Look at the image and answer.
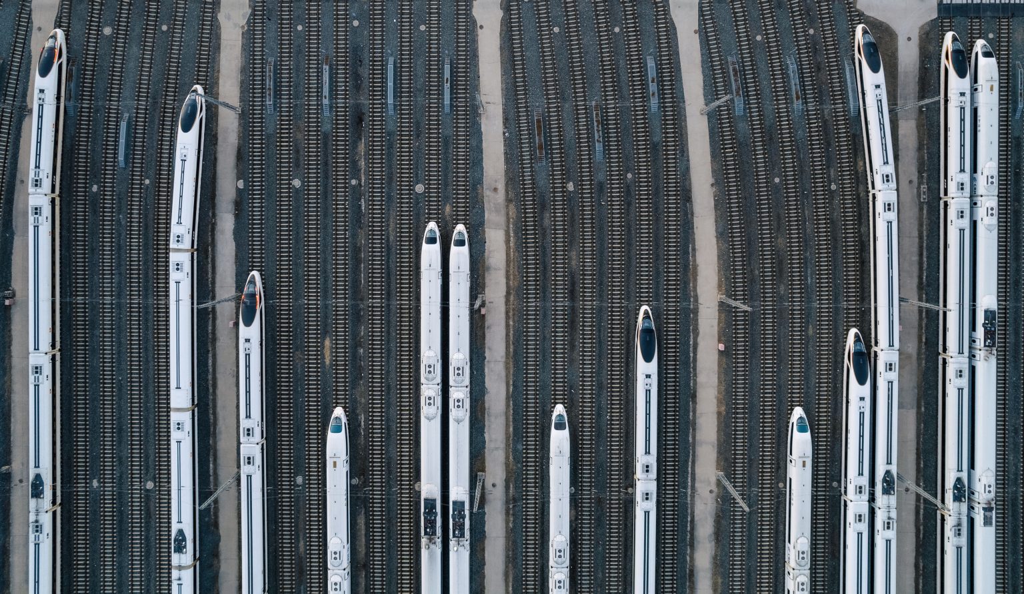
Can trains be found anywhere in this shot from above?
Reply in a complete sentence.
Yes, the frame does contain a train.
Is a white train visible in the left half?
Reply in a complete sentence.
Yes, a white train can be seen in the left half.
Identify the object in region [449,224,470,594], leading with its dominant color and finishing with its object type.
white train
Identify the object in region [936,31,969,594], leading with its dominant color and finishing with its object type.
white train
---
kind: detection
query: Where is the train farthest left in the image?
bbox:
[29,29,68,594]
